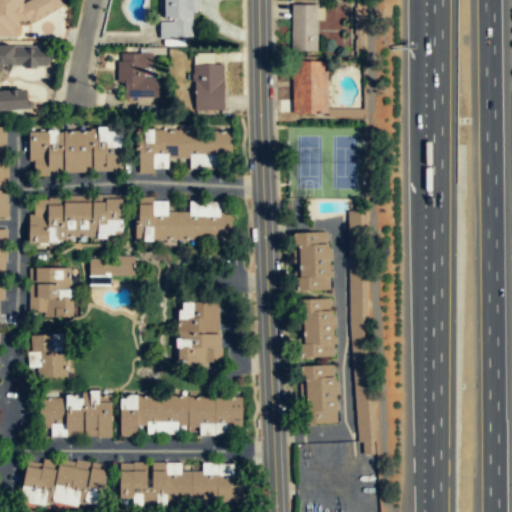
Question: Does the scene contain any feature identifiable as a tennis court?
Yes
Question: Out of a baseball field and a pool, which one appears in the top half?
pool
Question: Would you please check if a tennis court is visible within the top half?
Yes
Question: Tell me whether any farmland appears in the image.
No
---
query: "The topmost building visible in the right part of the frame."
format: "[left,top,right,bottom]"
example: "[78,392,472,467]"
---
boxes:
[293,4,326,52]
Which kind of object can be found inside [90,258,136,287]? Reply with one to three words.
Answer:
building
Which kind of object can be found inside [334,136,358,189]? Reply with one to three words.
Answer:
tennis court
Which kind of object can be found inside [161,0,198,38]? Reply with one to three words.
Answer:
house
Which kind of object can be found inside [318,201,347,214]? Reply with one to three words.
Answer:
swimming pool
